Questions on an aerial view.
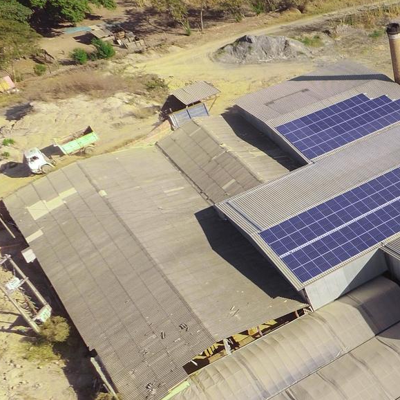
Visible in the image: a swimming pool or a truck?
truck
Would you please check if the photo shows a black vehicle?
No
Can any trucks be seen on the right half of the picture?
No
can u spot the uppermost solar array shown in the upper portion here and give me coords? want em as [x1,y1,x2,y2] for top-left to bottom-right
[277,94,400,159]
